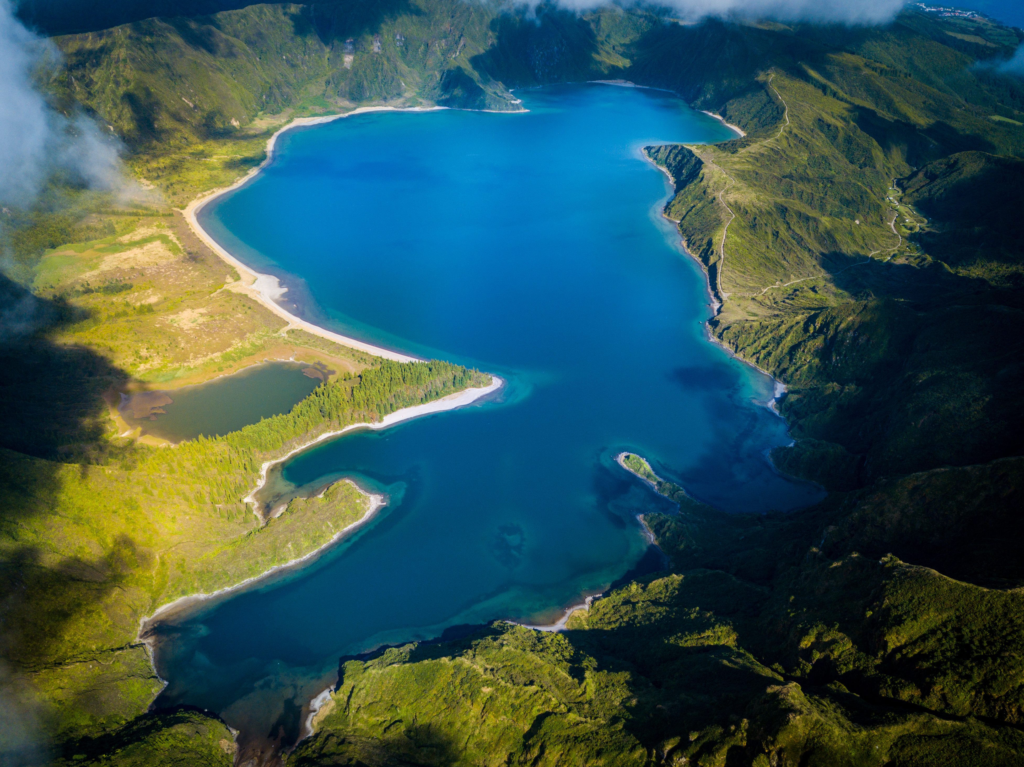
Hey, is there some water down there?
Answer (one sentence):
Yes, water can be seen from above here.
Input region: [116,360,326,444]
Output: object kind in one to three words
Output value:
pond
